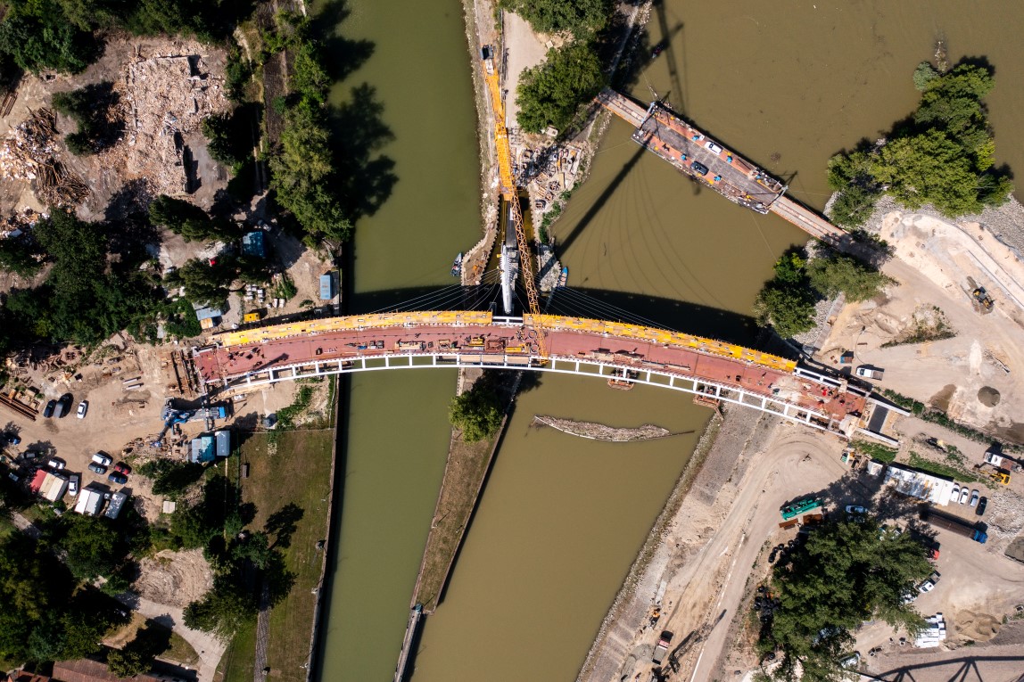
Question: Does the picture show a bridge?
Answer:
Yes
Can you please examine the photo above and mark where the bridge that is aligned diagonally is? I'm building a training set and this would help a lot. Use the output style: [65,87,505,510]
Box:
[595,86,839,239]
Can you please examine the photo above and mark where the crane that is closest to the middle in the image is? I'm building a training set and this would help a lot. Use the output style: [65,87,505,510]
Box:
[479,42,547,359]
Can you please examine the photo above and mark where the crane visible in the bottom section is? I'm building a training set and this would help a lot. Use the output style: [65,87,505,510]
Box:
[154,395,225,447]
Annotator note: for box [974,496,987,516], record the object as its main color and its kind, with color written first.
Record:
black vehicle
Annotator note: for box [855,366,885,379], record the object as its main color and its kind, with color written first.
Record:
white vehicle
